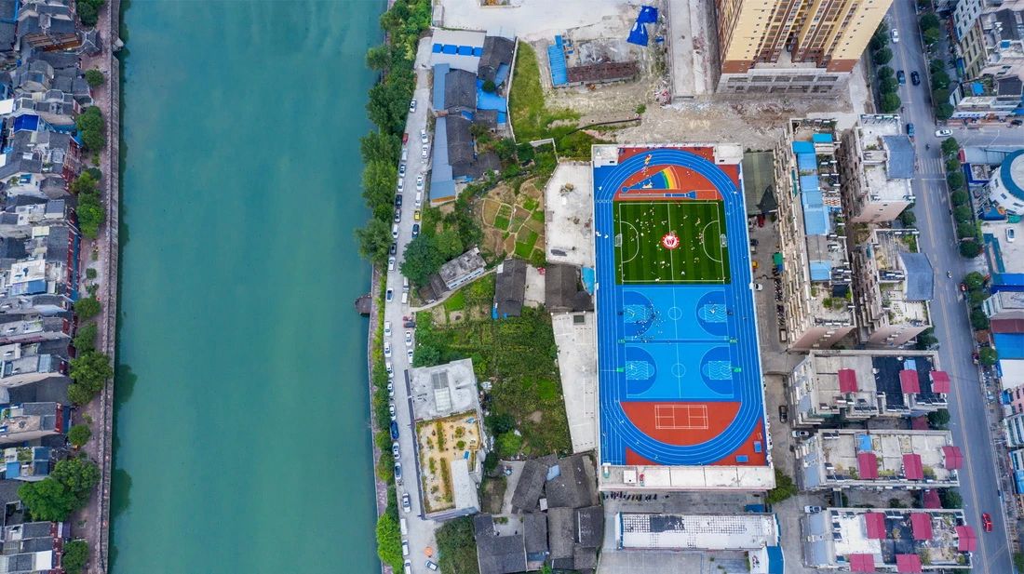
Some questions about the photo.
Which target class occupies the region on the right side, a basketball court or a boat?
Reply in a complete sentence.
What appears on the right side is a basketball court.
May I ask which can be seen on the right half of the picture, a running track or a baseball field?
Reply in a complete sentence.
There is a running track on the right half of the picture.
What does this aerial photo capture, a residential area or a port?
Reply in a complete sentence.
It's a residential area.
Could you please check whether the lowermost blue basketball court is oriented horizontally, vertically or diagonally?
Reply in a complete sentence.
The lowermost blue basketball court has been laid out horizontally relative to the frame.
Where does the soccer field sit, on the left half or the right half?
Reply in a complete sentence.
It is on the right.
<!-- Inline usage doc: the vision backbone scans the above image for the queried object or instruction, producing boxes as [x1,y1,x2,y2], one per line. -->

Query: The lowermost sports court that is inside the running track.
[655,405,708,429]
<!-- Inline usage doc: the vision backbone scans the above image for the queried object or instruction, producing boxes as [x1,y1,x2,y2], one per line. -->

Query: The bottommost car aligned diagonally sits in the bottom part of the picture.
[422,558,440,573]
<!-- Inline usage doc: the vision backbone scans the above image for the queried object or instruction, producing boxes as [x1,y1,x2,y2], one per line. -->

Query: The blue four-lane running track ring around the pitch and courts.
[593,150,765,464]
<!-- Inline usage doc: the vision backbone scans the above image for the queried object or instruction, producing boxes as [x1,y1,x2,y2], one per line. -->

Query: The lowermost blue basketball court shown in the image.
[625,343,734,398]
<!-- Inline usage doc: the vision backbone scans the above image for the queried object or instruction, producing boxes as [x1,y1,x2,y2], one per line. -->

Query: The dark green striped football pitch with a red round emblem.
[612,201,731,284]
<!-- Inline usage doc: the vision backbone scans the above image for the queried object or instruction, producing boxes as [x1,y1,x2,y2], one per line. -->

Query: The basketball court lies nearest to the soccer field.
[623,287,729,339]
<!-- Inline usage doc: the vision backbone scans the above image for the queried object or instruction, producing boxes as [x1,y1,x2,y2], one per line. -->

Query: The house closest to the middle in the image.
[495,258,527,321]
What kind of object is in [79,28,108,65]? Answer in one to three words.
building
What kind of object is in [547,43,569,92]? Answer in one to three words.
shed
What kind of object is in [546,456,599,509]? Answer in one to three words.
house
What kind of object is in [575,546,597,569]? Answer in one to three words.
house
